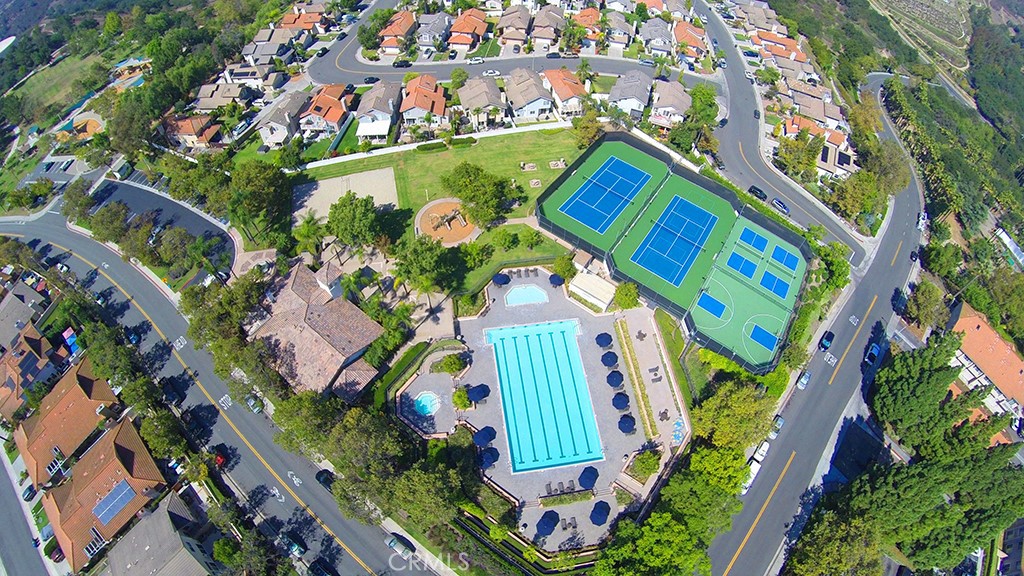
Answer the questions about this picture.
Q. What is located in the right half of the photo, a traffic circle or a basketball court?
basketball court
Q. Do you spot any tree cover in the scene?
Yes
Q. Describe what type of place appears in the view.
residential area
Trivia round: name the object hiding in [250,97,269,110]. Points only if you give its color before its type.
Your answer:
white vehicle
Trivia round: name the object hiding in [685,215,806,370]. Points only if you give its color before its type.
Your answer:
green basketball court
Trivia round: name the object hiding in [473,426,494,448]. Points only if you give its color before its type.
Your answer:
blue umbrella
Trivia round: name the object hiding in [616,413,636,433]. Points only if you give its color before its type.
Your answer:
blue umbrella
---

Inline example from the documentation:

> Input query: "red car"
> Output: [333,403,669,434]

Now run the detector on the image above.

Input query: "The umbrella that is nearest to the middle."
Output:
[493,272,509,287]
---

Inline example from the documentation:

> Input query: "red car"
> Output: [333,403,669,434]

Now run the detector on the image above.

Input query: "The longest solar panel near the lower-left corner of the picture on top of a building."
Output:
[88,478,137,526]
